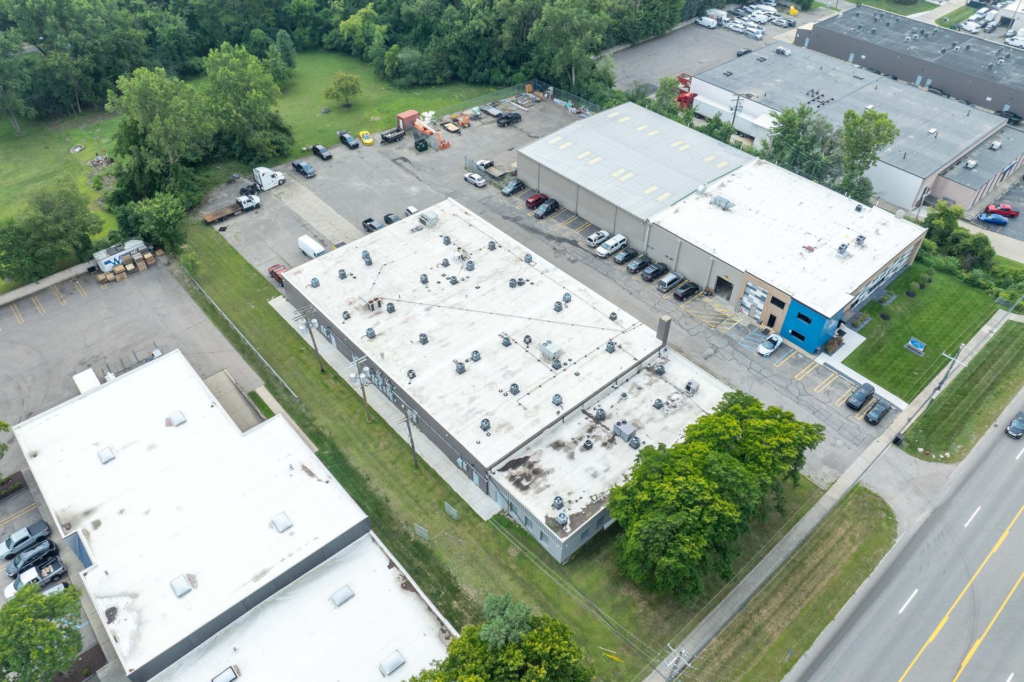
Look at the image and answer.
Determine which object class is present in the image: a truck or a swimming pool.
truck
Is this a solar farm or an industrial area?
industrial area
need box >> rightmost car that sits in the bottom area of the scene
[1001,410,1024,441]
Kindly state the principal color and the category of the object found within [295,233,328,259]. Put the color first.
white vehicle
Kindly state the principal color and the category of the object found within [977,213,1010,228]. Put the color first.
blue car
